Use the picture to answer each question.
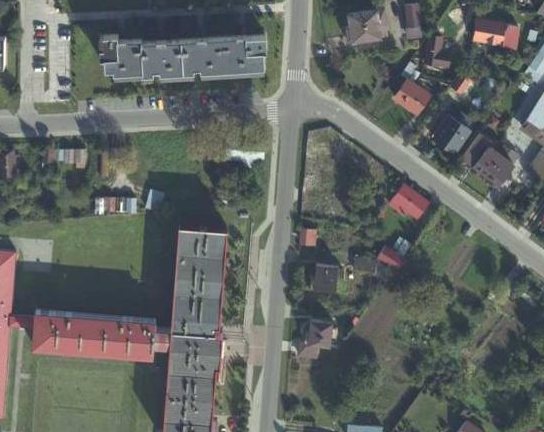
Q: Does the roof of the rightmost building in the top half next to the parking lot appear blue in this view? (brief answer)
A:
No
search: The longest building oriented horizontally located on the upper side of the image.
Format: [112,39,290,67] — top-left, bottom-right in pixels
[99,34,267,85]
